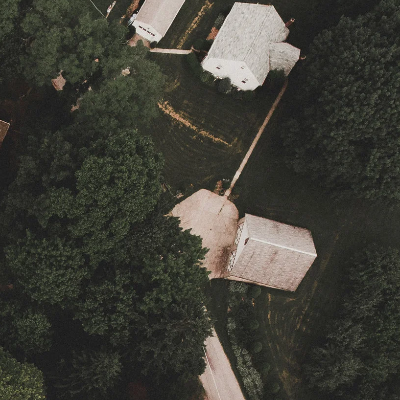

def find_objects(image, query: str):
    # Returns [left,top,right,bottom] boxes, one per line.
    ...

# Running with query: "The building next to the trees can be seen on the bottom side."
[227,213,318,291]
